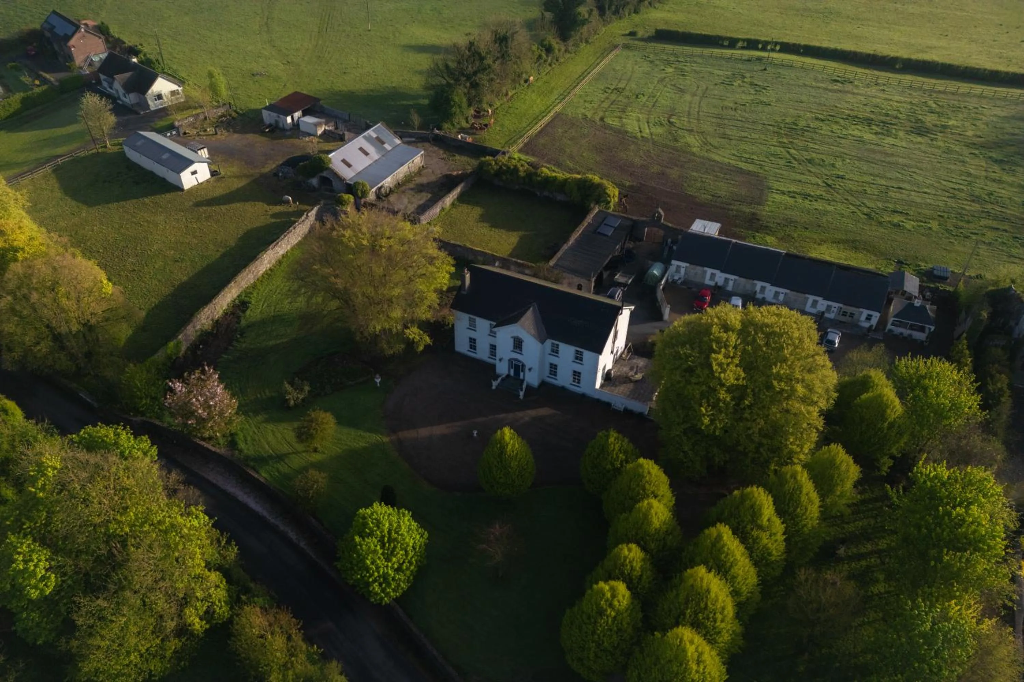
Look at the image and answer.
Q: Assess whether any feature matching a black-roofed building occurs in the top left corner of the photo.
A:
Yes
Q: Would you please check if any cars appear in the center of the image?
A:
Yes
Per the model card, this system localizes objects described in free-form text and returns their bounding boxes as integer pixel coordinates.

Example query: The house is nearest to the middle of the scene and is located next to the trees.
[450,264,636,402]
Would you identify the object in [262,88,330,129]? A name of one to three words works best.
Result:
shed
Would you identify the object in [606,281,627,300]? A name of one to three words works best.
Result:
car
